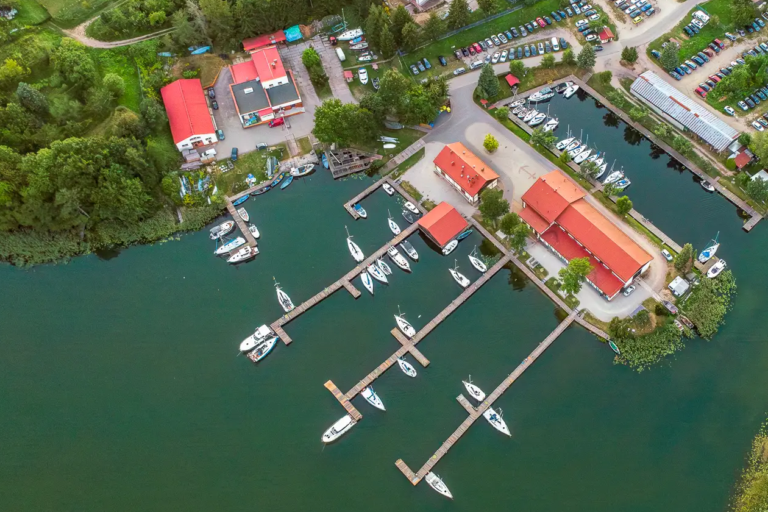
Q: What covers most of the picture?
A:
water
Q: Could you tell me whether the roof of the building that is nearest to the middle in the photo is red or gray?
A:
red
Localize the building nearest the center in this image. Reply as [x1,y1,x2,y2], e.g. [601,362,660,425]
[418,202,470,248]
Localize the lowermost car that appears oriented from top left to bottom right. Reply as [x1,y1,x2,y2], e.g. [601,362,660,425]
[661,247,674,263]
